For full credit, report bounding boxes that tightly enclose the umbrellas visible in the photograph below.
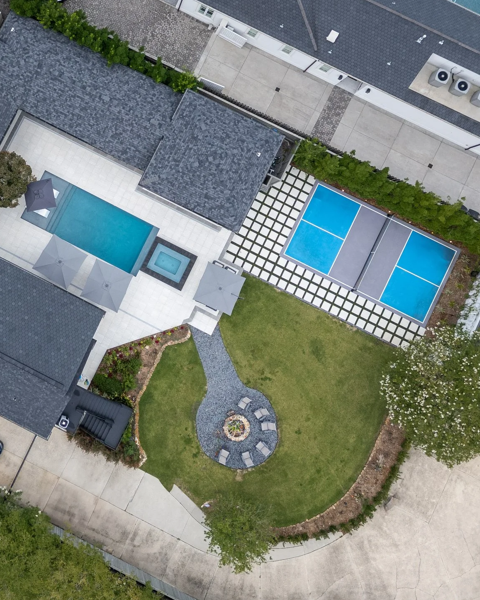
[32,234,87,290]
[26,178,57,213]
[193,261,246,315]
[81,259,134,312]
